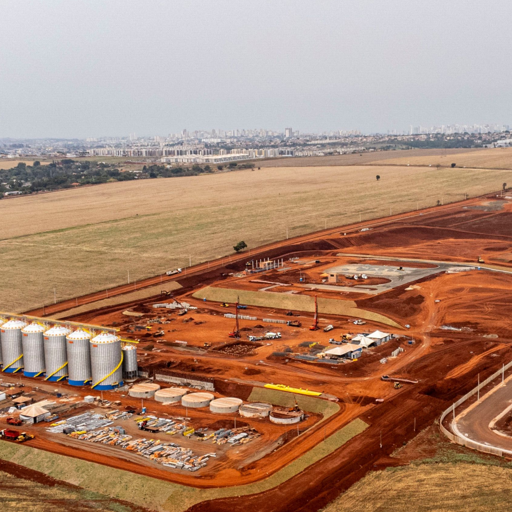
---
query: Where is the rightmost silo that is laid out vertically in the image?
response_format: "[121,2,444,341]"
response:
[120,345,138,380]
